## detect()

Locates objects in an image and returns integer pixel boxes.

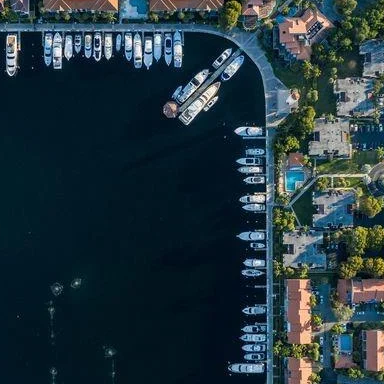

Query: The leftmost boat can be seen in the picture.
[6,33,19,76]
